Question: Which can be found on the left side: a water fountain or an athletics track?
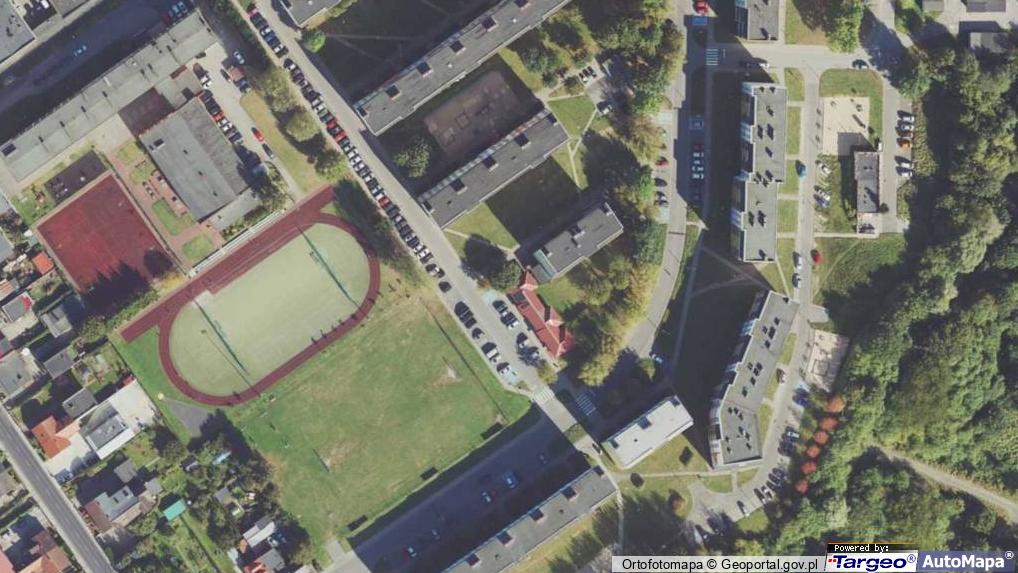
athletics track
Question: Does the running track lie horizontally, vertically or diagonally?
diagonally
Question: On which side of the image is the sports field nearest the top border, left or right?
left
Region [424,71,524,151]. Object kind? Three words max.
sports court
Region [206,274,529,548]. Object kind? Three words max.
sports field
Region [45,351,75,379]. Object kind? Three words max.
house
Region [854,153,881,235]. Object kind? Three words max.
building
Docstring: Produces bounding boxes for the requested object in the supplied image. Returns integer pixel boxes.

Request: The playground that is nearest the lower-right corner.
[806,331,848,390]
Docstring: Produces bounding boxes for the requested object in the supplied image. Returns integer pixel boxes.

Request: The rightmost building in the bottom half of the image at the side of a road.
[706,287,799,465]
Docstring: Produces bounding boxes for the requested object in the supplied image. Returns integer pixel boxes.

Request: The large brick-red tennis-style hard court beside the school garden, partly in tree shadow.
[37,175,168,308]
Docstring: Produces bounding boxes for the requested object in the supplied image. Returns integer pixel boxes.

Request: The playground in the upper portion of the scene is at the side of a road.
[822,97,870,156]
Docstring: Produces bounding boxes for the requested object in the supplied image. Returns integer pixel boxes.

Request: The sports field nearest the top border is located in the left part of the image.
[169,227,370,395]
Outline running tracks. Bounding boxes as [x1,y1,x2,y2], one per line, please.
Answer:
[121,183,380,405]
